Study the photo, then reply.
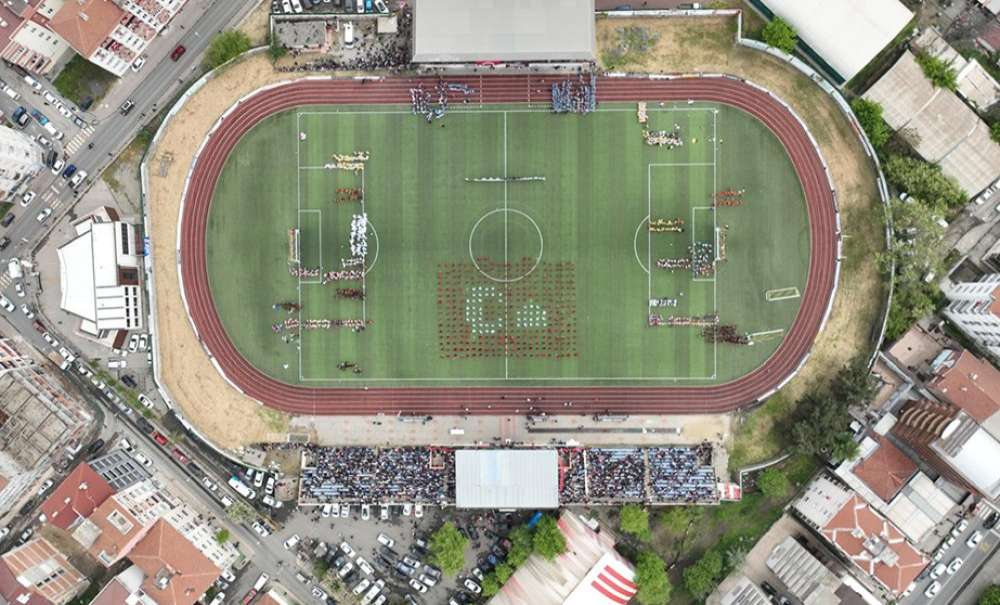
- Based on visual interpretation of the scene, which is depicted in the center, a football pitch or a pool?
football pitch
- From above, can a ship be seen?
No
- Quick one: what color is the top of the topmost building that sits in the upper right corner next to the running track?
white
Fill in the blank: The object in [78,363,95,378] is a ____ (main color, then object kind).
white car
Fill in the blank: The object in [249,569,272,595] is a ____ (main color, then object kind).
white vehicle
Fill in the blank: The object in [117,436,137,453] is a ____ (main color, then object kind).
white vehicle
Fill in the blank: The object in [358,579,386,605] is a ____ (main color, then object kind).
white bus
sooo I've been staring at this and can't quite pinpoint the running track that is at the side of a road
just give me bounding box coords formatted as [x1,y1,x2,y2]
[179,74,839,416]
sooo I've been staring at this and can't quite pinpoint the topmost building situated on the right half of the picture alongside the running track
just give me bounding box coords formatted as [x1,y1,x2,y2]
[739,0,915,91]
